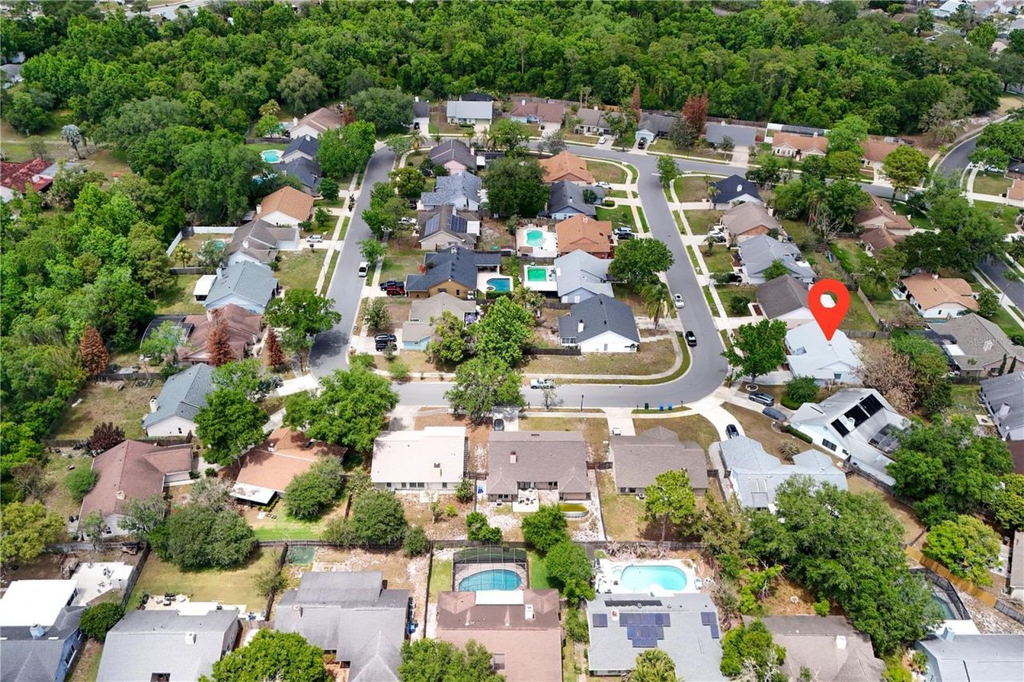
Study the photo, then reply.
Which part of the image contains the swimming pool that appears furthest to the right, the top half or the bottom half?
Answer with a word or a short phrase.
bottom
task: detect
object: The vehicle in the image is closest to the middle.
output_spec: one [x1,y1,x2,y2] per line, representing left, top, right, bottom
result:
[531,376,556,388]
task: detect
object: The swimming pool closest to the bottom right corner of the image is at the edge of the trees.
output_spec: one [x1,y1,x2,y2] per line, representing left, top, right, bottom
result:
[913,566,967,623]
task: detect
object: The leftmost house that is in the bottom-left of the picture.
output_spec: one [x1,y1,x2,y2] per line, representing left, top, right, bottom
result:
[0,580,90,682]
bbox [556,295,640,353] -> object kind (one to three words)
house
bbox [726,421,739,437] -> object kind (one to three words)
vehicle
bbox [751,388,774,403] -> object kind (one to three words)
car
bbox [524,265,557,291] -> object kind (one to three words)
swimming pool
